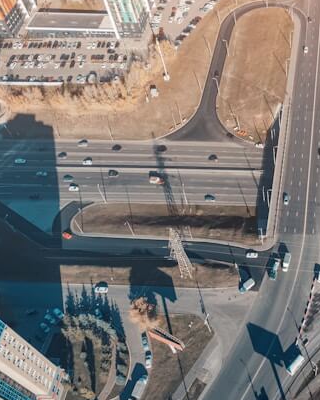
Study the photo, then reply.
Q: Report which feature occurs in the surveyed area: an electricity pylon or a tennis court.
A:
electricity pylon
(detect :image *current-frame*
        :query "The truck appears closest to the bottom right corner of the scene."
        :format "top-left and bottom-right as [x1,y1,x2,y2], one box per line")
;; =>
[282,352,306,375]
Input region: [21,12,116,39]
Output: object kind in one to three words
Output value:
building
